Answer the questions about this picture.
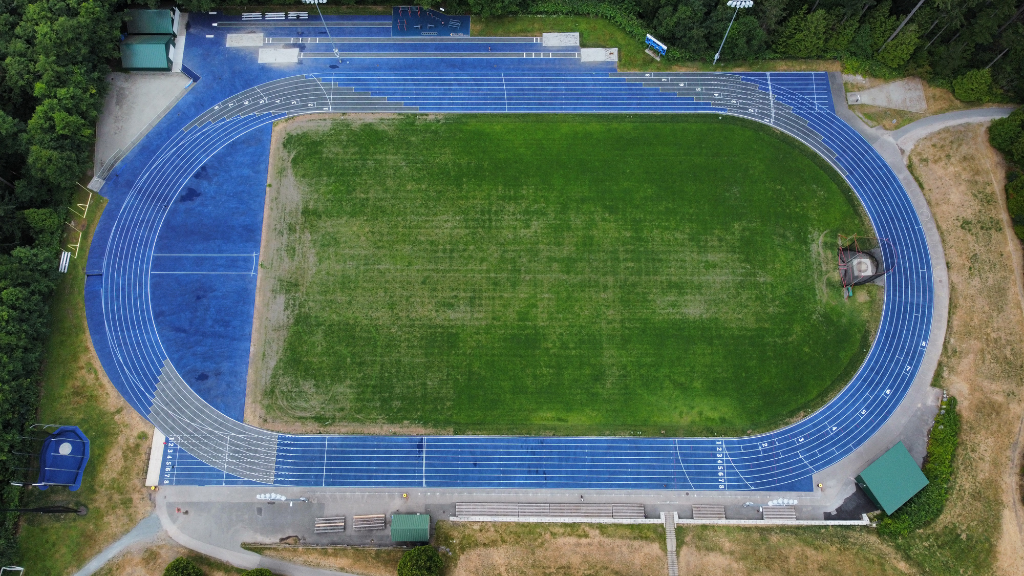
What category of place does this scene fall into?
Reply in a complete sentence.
The area seen from above is a sports ground.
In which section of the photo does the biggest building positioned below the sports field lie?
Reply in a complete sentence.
You can find the biggest building positioned below the sports field in the bottom right area of the picture.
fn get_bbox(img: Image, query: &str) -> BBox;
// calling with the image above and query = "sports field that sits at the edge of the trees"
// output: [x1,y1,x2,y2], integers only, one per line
[243,114,882,435]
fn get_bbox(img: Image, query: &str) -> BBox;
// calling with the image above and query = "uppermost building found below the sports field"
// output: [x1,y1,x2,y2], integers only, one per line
[854,441,929,515]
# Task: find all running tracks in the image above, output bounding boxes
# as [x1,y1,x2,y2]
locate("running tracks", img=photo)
[85,12,935,492]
